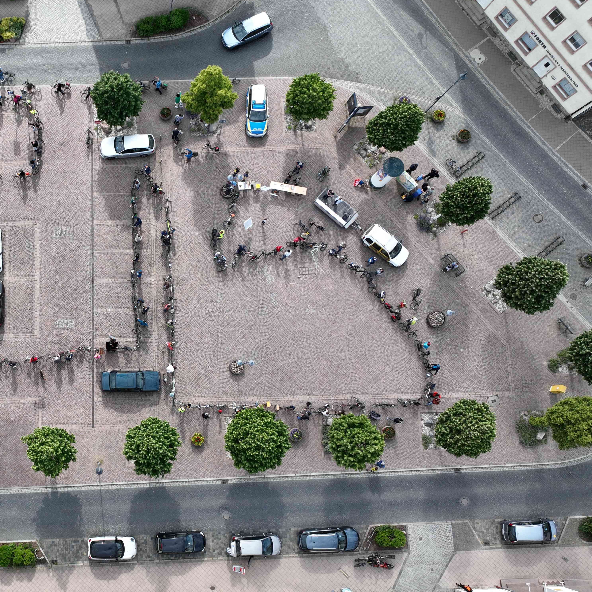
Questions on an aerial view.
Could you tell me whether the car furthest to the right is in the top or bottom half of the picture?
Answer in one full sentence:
You can find the car furthest to the right in the bottom half.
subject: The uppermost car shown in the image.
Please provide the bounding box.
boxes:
[220,13,277,52]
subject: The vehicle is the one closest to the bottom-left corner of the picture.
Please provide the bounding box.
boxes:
[88,536,136,561]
